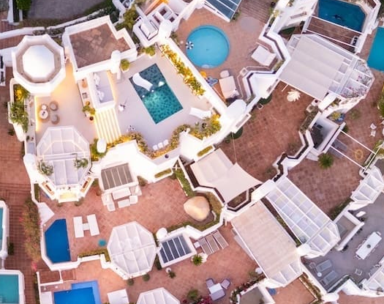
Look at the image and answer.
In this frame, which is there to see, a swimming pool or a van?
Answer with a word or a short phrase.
swimming pool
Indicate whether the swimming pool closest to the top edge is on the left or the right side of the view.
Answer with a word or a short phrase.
right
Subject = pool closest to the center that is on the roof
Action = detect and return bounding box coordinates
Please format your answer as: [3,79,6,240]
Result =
[128,62,184,126]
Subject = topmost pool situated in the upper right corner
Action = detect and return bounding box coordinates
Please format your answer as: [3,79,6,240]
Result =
[315,0,367,33]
